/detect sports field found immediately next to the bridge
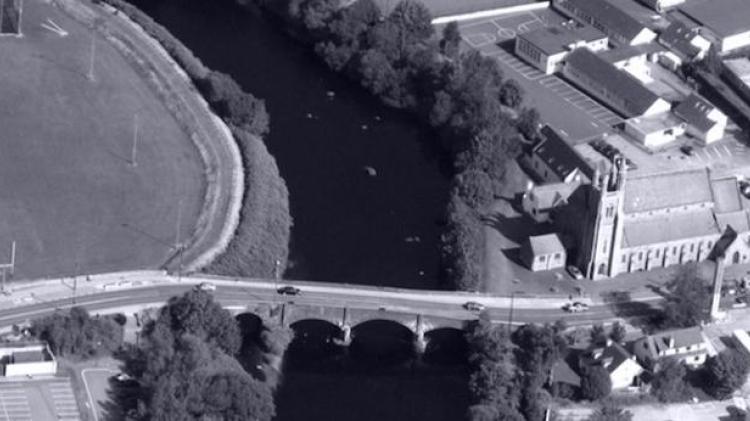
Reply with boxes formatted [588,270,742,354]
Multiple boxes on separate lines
[0,0,195,283]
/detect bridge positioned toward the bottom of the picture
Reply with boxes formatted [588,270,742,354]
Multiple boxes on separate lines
[223,269,501,354]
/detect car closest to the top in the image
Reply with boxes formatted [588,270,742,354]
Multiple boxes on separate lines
[676,141,698,154]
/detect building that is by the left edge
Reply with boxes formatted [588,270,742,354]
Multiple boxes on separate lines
[0,341,59,376]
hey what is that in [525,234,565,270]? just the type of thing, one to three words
house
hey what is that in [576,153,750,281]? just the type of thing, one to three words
church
